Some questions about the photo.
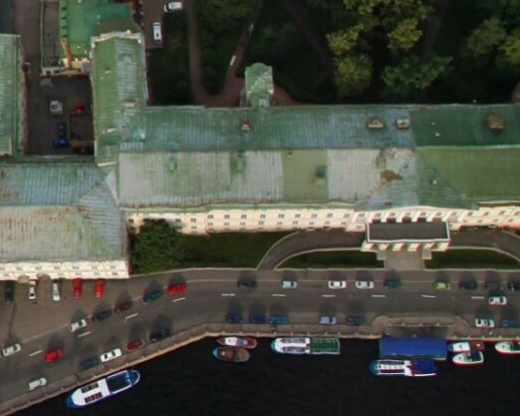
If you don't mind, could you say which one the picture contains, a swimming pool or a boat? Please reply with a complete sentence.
Of the two, only a boat appears.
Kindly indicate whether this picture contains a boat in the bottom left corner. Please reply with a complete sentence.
Yes, looking in the bottom left corner, one can make out a boat.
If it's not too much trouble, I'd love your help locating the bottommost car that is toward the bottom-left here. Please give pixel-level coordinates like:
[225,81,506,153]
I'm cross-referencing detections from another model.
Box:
[27,377,47,390]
